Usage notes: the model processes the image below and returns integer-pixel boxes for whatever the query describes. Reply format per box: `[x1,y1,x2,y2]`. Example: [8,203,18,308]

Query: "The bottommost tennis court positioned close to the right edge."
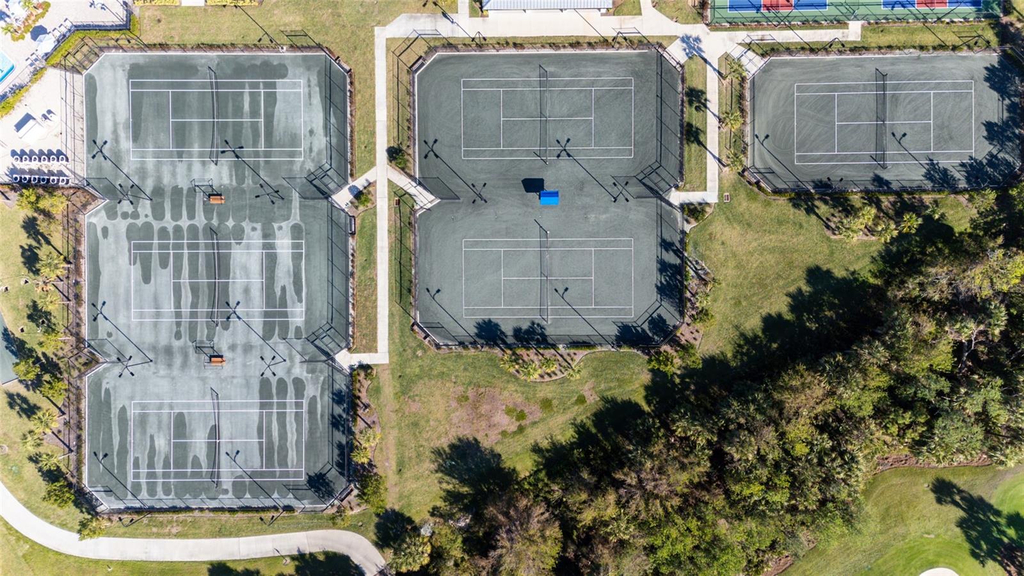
[749,58,1022,191]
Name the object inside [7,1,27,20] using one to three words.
umbrella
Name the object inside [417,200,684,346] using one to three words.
tennis court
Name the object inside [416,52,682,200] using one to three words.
tennis court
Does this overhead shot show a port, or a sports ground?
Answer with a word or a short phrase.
sports ground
